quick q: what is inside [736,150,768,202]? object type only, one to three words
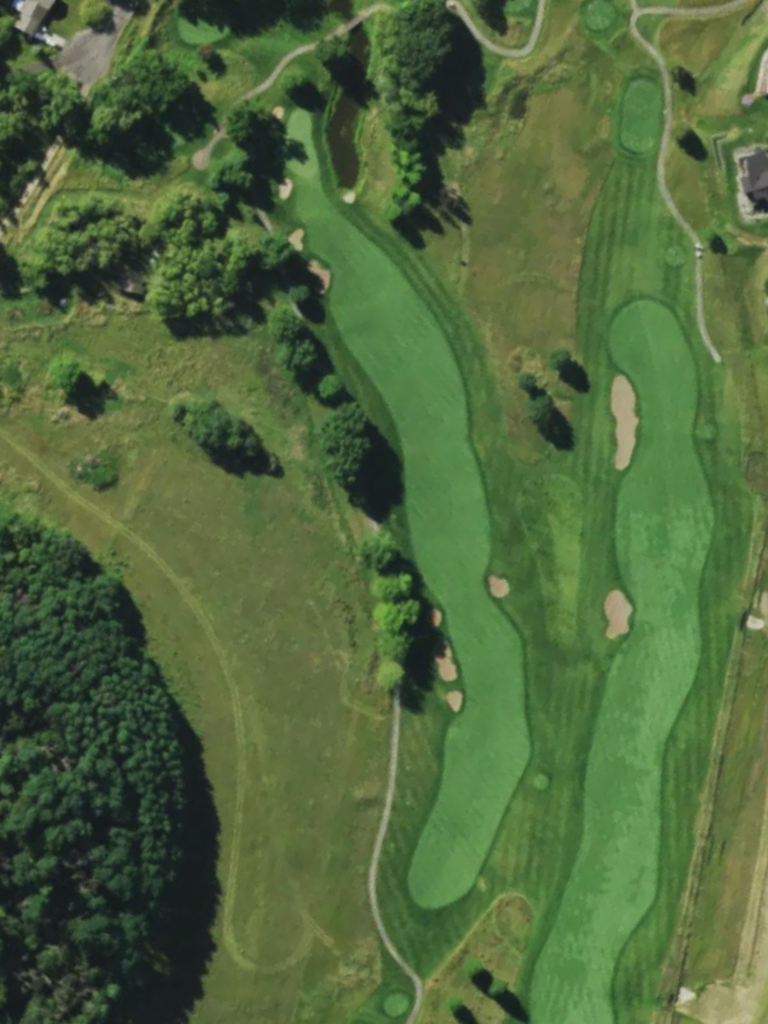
house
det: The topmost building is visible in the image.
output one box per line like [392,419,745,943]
[16,0,55,39]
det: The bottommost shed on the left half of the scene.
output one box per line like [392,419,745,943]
[123,272,145,292]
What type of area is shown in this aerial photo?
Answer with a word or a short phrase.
golf course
